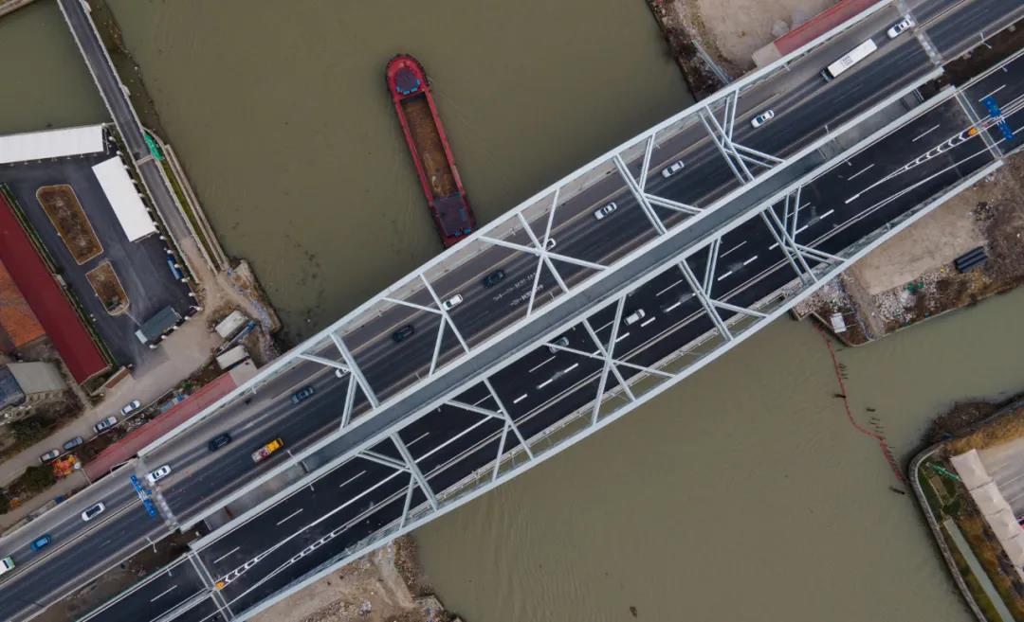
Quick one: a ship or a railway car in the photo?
ship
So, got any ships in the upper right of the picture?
No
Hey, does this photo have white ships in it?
No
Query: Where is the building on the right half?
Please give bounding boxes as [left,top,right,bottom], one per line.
[827,310,855,333]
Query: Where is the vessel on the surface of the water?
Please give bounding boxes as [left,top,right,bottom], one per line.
[387,50,473,252]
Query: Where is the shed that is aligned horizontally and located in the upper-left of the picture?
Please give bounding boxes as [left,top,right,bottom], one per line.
[0,125,112,168]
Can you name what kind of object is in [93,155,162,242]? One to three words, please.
shed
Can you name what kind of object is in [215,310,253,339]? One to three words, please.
building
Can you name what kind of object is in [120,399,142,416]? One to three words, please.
car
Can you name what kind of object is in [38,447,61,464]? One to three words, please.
car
